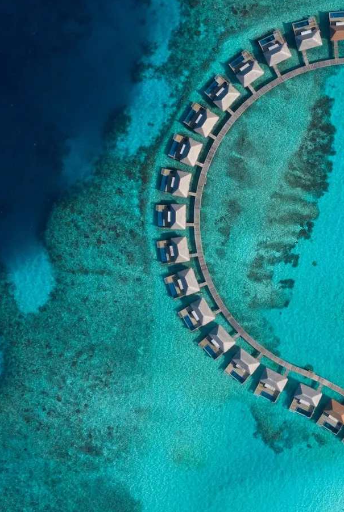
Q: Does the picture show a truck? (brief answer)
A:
No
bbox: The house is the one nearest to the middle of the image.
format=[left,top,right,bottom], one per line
[156,237,192,265]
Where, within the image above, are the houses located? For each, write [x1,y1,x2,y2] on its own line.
[227,49,265,88]
[155,203,189,229]
[328,11,344,42]
[198,325,236,361]
[182,101,221,137]
[287,382,322,419]
[257,29,293,68]
[315,398,344,437]
[164,268,202,300]
[156,237,192,265]
[253,367,289,405]
[224,348,261,386]
[202,73,242,112]
[292,16,323,52]
[166,133,204,166]
[178,297,216,334]
[159,168,193,197]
